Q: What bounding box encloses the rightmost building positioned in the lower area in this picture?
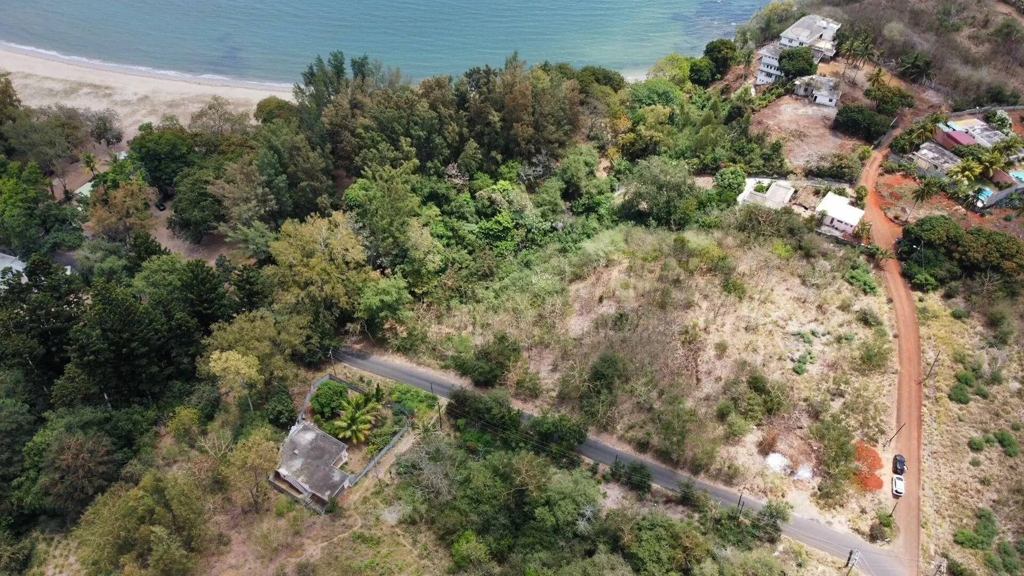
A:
[268,420,351,505]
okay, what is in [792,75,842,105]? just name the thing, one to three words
building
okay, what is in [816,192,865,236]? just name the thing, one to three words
house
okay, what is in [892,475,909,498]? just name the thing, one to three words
car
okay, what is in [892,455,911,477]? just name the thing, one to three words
car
